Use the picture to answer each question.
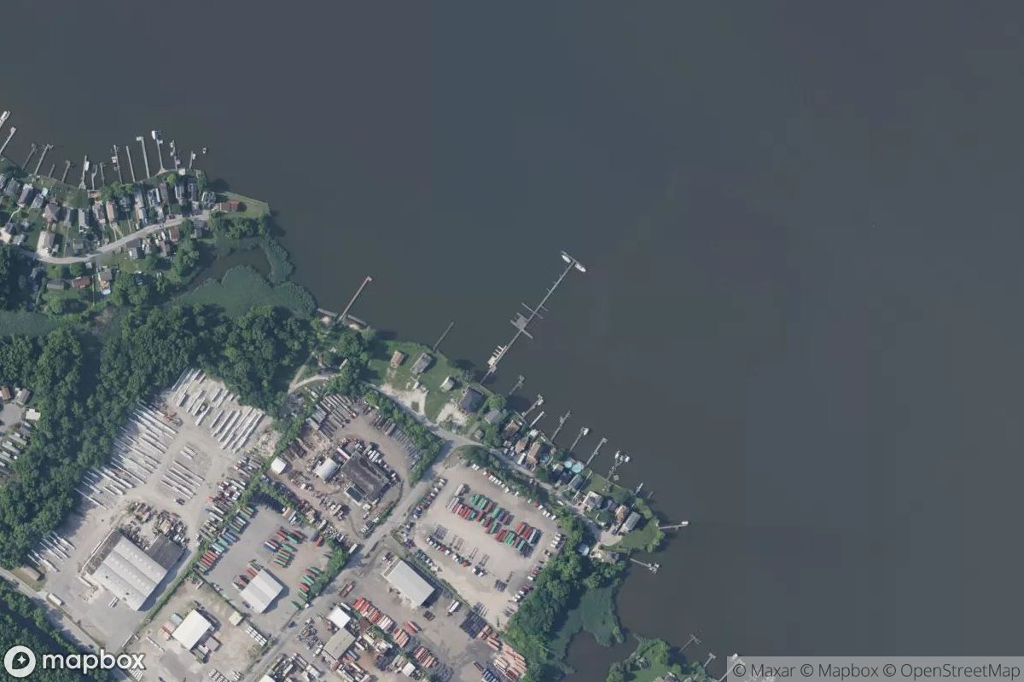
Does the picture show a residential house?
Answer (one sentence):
Yes, the image includes a residential house.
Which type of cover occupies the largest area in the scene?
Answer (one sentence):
The bulk of the photo consists of water.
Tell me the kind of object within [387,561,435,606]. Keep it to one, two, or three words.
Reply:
building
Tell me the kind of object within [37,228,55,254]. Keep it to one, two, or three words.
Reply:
house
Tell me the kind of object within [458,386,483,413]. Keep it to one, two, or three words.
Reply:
house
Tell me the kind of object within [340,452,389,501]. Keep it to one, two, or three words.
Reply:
building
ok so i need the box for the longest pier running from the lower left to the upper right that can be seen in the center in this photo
[480,251,579,384]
